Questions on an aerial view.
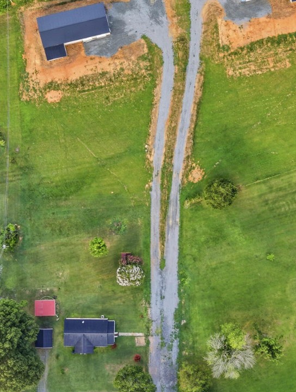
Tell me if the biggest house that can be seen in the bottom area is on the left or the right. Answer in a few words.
left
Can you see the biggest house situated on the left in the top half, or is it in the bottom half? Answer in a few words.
top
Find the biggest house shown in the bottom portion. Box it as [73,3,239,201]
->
[63,318,114,355]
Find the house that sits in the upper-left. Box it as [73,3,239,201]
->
[37,3,110,62]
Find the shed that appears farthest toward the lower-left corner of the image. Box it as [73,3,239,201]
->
[35,327,53,350]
